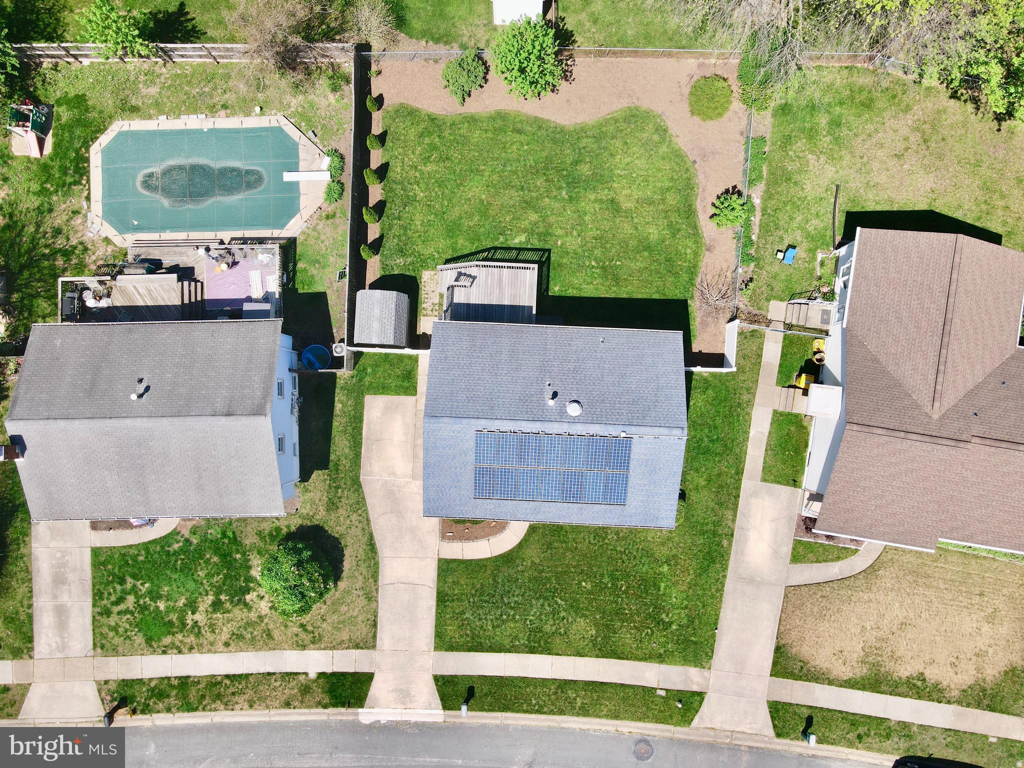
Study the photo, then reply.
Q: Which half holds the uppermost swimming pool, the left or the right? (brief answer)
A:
left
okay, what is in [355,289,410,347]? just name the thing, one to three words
shed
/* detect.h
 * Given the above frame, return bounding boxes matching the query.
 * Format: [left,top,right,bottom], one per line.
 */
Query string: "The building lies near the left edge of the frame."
[0,318,302,523]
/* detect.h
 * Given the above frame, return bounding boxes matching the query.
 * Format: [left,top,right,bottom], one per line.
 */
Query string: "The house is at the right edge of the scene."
[776,228,1024,554]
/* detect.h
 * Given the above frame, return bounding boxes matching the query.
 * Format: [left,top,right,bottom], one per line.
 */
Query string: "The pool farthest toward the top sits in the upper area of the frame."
[91,116,328,247]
